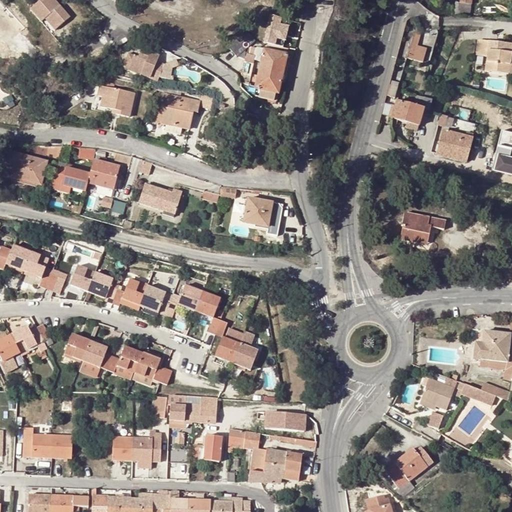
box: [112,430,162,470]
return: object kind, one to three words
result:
house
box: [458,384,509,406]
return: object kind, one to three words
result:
building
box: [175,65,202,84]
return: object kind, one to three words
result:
swimming pool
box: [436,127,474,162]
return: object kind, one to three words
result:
house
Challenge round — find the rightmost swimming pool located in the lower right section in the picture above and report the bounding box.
[458,404,487,436]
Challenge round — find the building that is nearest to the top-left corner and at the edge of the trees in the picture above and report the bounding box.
[30,0,70,28]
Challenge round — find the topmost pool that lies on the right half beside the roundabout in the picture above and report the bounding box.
[427,345,462,366]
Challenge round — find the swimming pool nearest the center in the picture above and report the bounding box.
[229,225,250,238]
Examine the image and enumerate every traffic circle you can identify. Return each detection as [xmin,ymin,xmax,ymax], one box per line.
[326,302,411,386]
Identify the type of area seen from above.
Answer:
residential area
